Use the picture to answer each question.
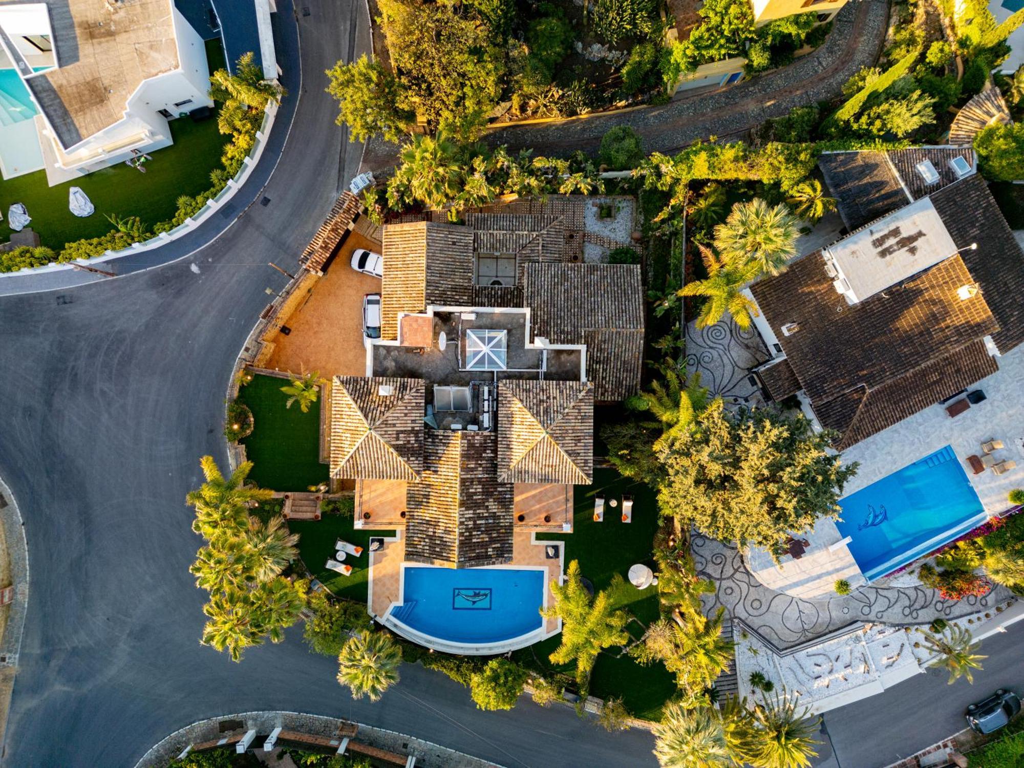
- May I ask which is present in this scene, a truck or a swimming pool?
swimming pool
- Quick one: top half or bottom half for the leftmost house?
top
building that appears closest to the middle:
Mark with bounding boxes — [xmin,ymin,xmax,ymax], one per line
[328,212,647,571]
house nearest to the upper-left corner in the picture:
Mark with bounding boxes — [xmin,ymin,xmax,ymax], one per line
[0,0,217,181]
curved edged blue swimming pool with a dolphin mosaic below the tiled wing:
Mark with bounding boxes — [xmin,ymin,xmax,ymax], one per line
[378,562,560,663]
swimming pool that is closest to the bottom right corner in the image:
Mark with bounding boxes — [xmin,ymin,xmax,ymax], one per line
[832,445,989,593]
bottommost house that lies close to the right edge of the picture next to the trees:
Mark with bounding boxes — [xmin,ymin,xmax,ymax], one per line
[751,145,1024,450]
